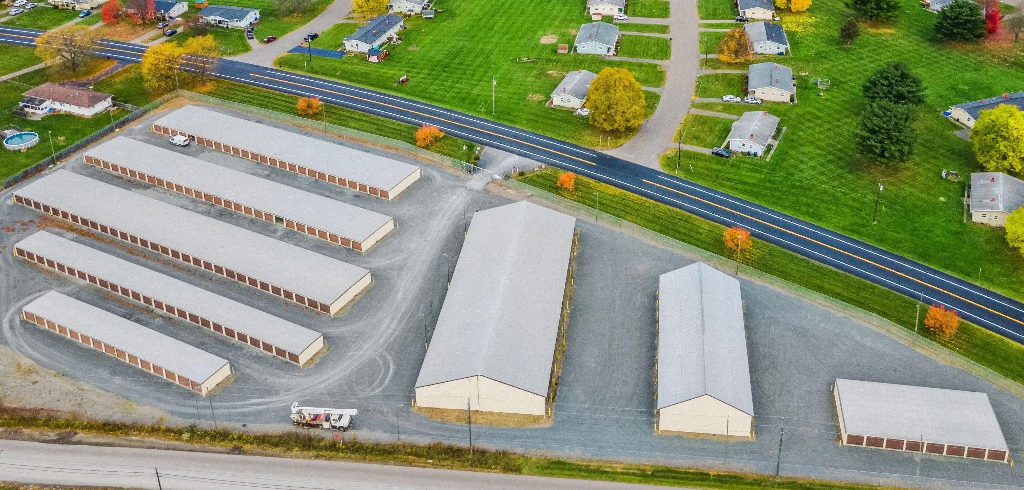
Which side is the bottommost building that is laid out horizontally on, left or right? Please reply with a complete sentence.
The bottommost building that is laid out horizontally sits on the right side.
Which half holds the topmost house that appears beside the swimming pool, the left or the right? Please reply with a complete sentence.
The topmost house that appears beside the swimming pool appears in the left half of the scene.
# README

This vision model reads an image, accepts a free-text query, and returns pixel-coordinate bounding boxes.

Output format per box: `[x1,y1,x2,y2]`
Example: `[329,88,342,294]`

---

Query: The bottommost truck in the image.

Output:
[291,400,355,431]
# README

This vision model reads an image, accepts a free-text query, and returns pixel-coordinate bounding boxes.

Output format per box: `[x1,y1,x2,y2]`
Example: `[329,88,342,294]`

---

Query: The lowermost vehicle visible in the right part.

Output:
[711,146,732,158]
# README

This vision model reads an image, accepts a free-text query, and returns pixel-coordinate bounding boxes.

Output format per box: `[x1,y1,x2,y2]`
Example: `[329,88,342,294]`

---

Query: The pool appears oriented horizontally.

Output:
[1,131,41,151]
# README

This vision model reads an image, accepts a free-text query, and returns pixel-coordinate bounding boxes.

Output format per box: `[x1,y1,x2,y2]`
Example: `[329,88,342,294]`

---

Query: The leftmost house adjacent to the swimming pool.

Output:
[12,82,115,116]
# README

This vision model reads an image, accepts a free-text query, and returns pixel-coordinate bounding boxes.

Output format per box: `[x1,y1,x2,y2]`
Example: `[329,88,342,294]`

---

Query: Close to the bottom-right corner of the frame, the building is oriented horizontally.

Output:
[835,379,1009,462]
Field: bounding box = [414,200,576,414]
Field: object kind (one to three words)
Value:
building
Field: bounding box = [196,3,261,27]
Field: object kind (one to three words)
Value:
house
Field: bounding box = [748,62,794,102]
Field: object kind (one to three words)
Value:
house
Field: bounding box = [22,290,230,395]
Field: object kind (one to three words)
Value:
building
